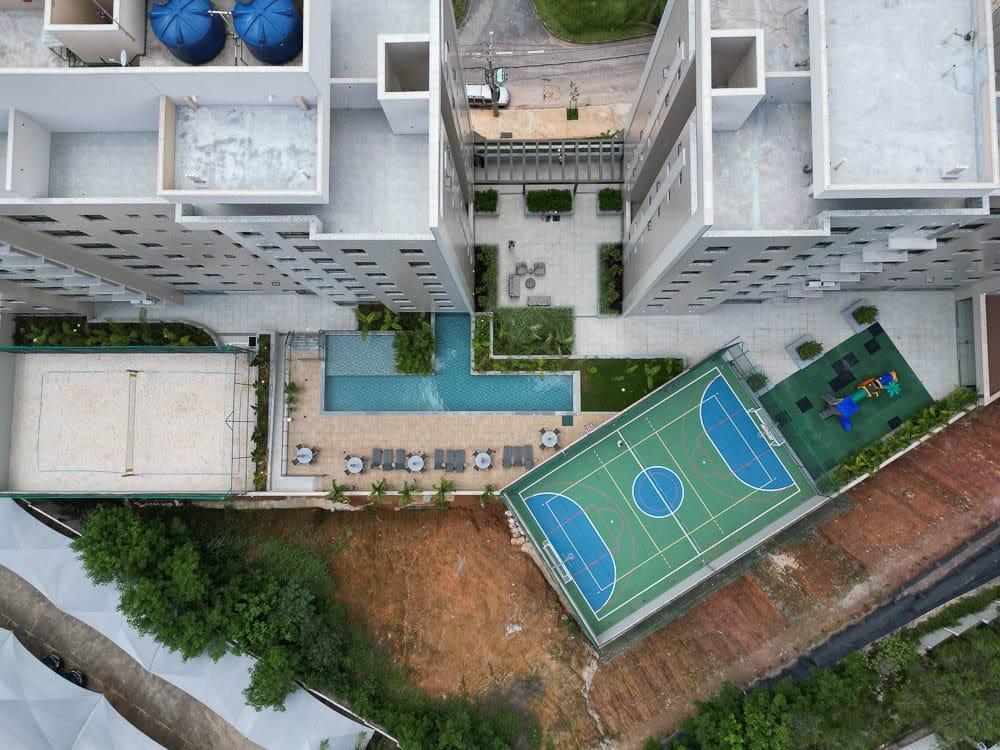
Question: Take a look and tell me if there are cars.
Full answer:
Yes, there's a car here.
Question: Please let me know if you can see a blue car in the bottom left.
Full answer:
No, I can find no blue car in the bottom left.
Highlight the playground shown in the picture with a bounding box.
[767,321,936,481]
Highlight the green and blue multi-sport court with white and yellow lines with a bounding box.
[502,346,824,641]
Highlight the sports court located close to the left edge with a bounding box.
[12,352,252,491]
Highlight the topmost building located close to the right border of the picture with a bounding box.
[620,0,1000,315]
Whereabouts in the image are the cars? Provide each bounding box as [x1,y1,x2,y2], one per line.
[64,662,94,688]
[39,644,69,674]
[463,78,508,107]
